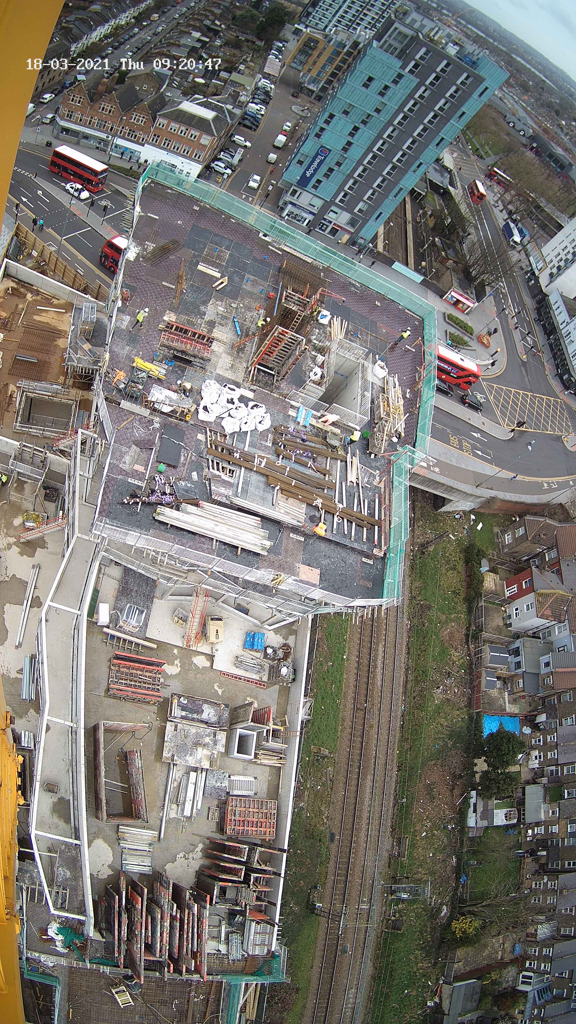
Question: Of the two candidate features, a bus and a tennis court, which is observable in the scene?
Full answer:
This aerial view contains a bus.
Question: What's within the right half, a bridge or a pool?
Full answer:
Looking within the right half, you will find a bridge.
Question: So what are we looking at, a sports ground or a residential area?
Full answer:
The area seen from above is a residential area.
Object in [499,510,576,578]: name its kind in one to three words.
house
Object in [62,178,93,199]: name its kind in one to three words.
car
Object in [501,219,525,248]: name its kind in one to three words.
truck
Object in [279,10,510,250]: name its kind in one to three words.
building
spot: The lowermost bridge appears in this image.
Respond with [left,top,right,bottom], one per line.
[390,464,490,514]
